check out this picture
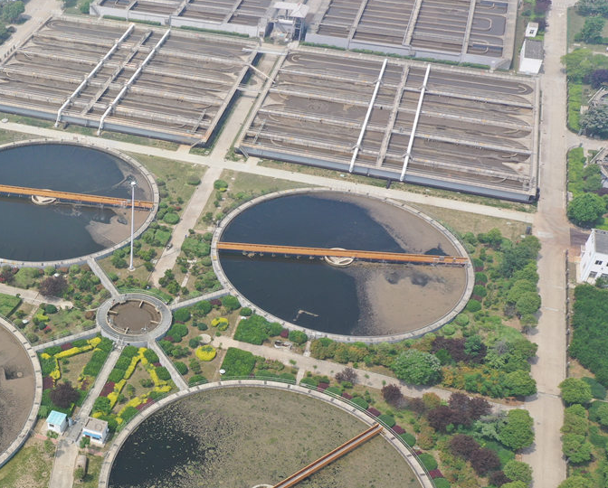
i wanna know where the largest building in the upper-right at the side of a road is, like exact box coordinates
[519,38,543,74]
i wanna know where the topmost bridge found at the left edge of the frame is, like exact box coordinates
[0,184,156,210]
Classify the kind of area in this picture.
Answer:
industrial area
